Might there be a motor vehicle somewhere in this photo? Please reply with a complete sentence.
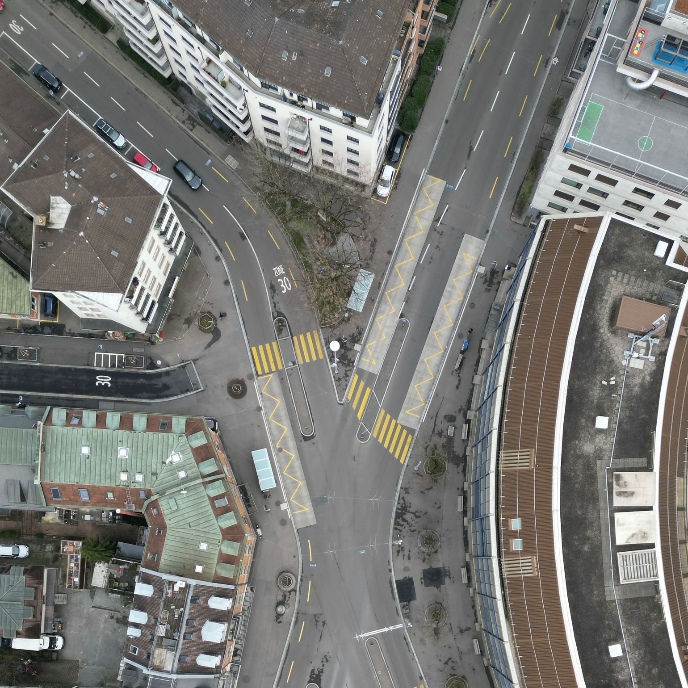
Yes, the photo shows a motor vehicle.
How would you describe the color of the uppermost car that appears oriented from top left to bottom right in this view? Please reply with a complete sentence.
In this view, the uppermost car that appears oriented from top left to bottom right is black.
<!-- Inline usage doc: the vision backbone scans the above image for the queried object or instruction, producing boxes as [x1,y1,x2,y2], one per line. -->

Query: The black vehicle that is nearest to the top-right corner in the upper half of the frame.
[385,130,409,166]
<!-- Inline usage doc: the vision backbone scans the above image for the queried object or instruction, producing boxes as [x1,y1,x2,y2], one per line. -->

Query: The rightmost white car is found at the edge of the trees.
[376,163,398,200]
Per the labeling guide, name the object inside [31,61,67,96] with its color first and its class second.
black car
